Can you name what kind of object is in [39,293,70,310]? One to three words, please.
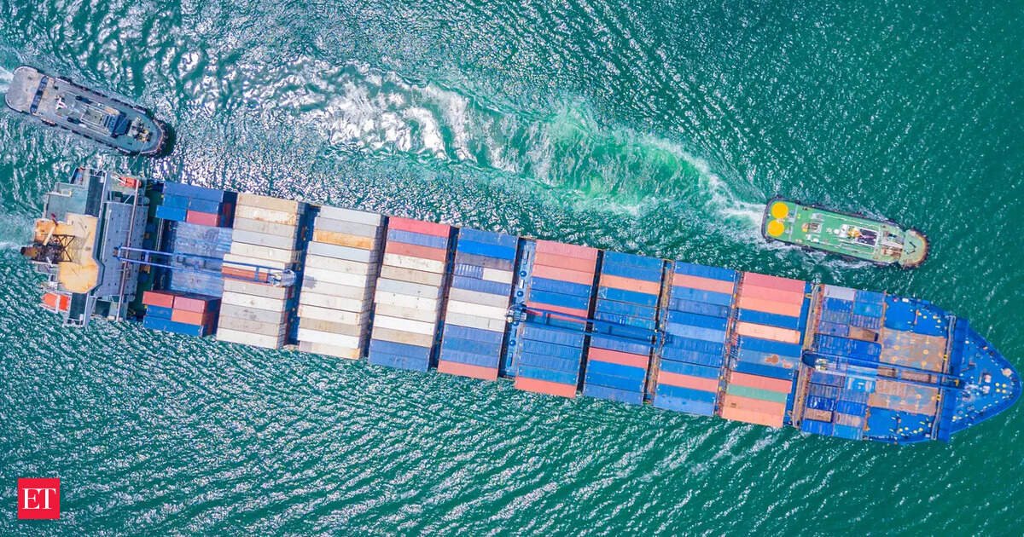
boat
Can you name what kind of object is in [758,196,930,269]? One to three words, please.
boat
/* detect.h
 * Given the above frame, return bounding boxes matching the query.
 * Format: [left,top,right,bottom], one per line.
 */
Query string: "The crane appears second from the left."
[505,301,669,341]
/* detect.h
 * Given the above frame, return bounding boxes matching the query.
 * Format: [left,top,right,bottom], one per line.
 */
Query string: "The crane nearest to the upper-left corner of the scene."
[117,245,309,286]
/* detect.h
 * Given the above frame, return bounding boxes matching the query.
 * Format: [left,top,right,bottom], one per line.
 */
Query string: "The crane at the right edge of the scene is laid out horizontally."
[794,349,984,391]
